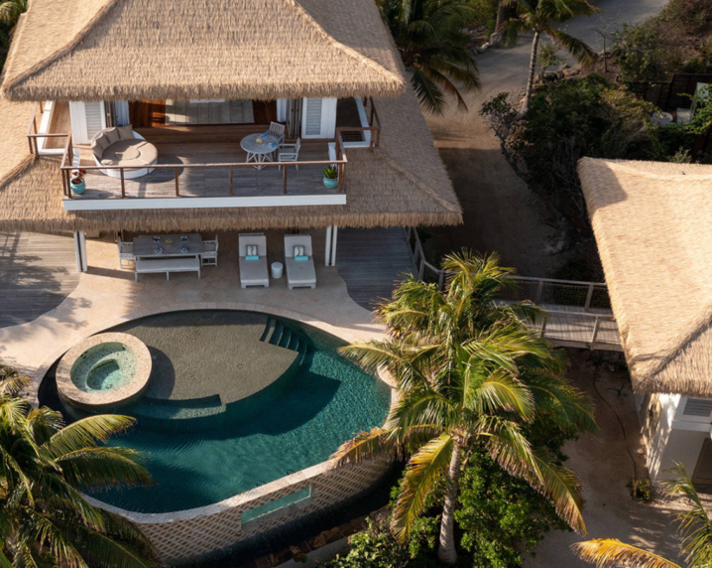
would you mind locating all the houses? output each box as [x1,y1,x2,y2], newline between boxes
[0,0,462,272]
[566,167,712,488]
